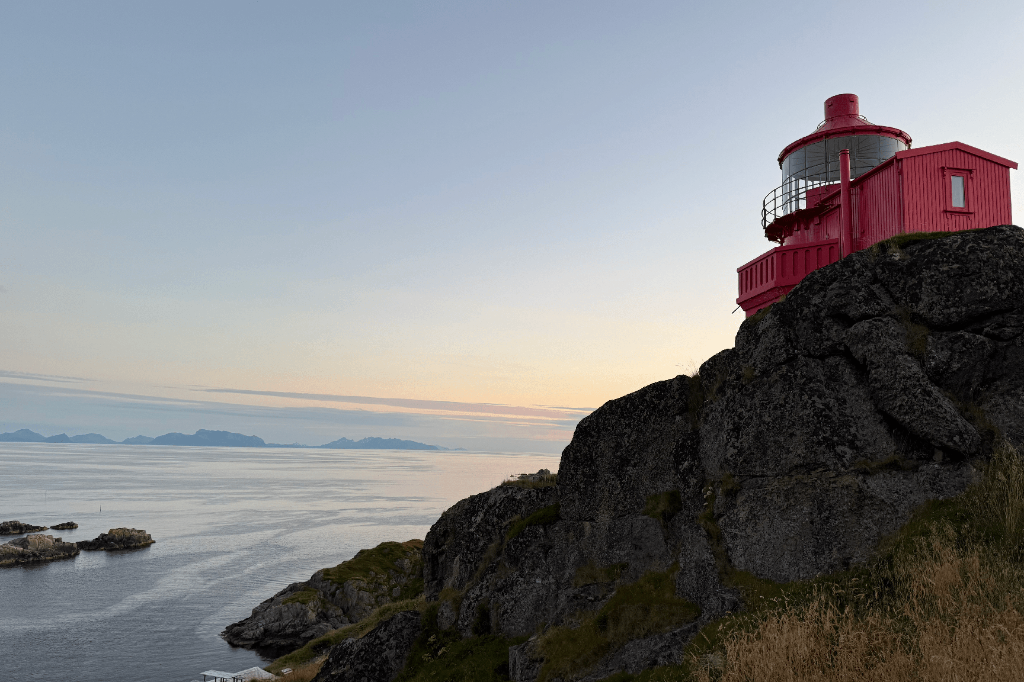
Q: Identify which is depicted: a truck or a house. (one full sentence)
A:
I can see a house in this picture.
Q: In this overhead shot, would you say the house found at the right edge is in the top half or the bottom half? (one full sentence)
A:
You can find the house found at the right edge in the top half.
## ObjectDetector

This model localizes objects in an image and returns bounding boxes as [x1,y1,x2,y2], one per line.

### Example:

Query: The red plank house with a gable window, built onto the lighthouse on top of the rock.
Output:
[809,139,1018,257]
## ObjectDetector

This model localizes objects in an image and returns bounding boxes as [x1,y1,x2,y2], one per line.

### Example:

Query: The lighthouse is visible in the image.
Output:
[726,93,916,320]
